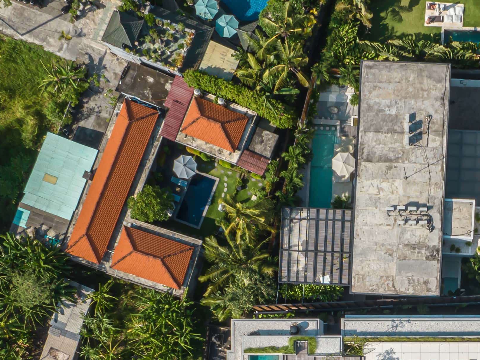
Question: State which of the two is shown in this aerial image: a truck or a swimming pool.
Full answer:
It is a swimming pool that can be seen here.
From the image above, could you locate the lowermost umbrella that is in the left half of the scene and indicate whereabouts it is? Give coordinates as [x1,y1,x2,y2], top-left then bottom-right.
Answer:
[174,155,197,178]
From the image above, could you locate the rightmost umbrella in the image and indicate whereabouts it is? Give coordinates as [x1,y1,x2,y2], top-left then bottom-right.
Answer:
[333,153,355,176]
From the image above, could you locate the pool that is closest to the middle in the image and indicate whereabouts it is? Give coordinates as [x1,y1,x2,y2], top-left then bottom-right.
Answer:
[169,172,222,232]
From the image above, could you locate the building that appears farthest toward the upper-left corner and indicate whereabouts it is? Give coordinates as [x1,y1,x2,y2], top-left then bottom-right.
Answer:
[101,9,144,48]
